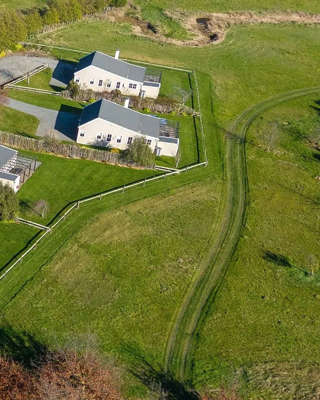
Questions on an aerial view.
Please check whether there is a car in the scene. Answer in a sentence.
No, the photo shows no car.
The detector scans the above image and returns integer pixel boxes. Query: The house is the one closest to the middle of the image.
[76,93,179,156]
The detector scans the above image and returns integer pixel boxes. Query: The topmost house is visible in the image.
[73,45,163,98]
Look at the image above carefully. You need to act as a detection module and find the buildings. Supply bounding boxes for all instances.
[73,45,163,98]
[76,93,179,156]
[0,145,39,192]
